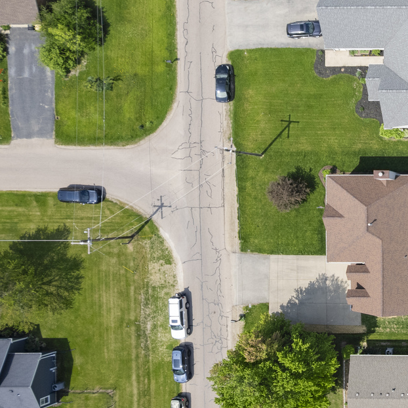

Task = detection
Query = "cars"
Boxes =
[169,346,190,382]
[215,64,235,103]
[166,293,189,338]
[287,20,323,38]
[170,393,190,408]
[57,185,107,205]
